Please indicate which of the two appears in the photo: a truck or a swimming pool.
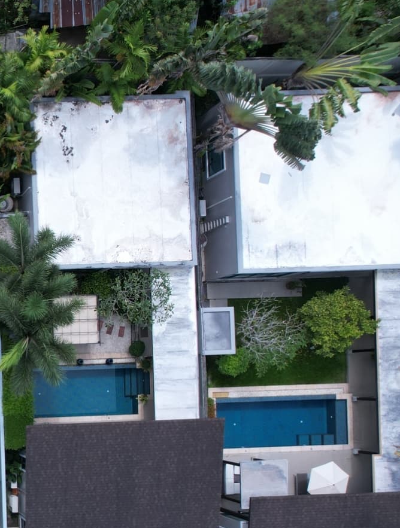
swimming pool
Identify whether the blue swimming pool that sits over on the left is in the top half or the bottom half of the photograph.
bottom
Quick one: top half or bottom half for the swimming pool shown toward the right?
bottom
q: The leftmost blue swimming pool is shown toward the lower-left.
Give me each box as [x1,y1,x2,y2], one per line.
[34,364,140,418]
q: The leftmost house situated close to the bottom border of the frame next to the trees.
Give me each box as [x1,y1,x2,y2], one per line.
[12,419,225,528]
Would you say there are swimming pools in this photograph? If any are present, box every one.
[34,364,140,418]
[212,390,353,453]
